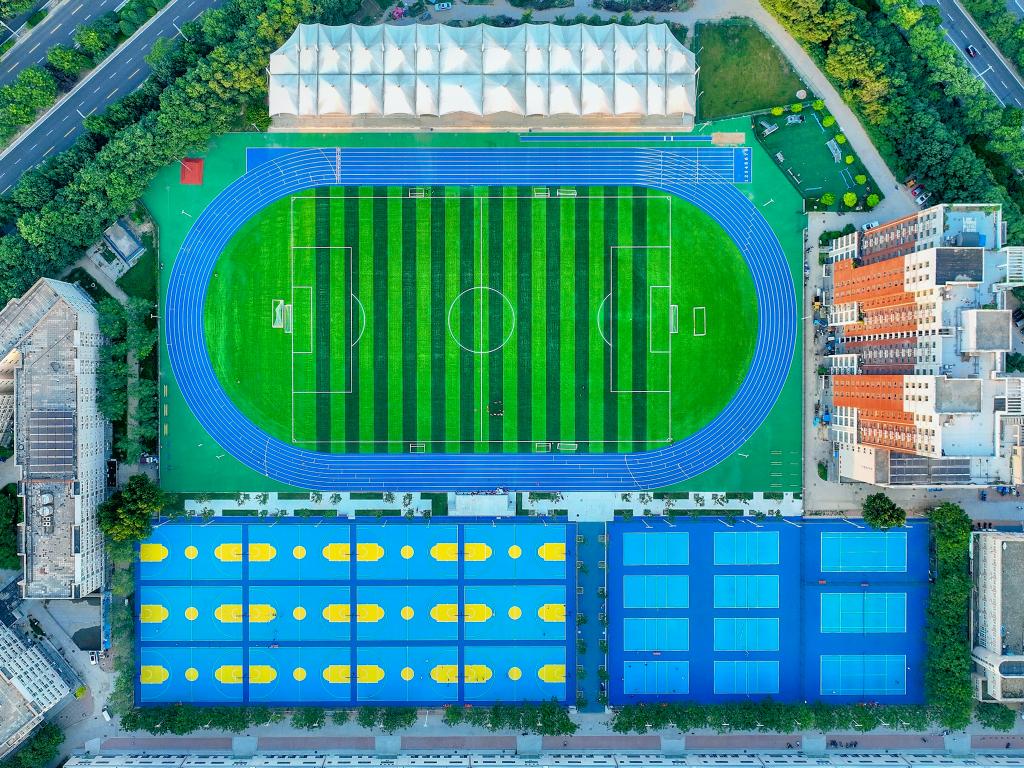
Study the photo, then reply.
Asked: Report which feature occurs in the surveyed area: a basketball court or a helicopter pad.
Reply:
basketball court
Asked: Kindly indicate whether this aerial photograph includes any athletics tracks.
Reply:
Yes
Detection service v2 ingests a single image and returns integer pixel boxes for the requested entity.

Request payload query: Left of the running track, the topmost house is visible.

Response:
[103,222,150,264]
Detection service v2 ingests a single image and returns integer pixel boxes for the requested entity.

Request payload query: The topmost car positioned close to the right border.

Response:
[965,42,980,58]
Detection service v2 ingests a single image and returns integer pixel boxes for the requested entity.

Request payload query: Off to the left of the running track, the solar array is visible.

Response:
[30,411,74,471]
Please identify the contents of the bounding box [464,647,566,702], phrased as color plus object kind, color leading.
blue basketball court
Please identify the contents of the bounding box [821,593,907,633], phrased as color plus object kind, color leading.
blue tennis court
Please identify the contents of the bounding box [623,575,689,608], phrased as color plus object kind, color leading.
blue sports court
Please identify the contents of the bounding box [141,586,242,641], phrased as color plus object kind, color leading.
blue basketball court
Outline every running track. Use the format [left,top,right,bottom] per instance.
[165,147,797,491]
